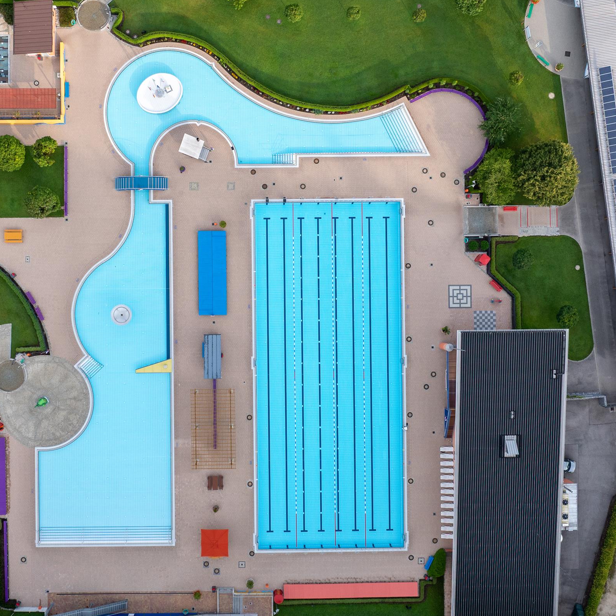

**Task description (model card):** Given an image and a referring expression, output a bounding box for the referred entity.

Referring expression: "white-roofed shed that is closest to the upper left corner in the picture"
[178,134,212,161]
